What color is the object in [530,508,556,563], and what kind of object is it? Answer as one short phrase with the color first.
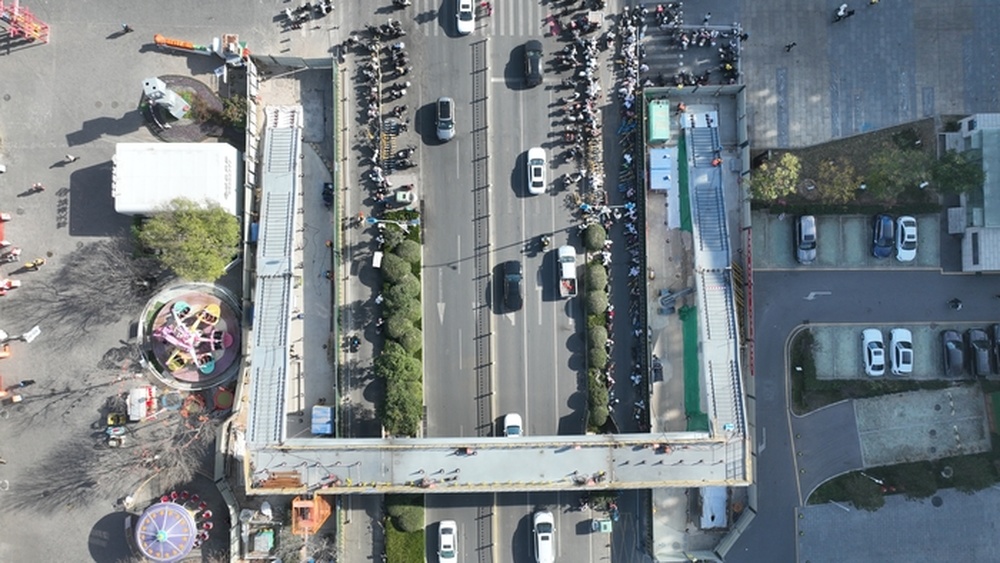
white car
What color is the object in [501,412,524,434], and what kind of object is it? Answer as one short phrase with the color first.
white car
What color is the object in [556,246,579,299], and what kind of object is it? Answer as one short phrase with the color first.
white vehicle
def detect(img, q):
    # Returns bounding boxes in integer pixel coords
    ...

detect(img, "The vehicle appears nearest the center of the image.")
[501,261,524,313]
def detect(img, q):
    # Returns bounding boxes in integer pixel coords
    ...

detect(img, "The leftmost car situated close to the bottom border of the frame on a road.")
[436,518,459,563]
